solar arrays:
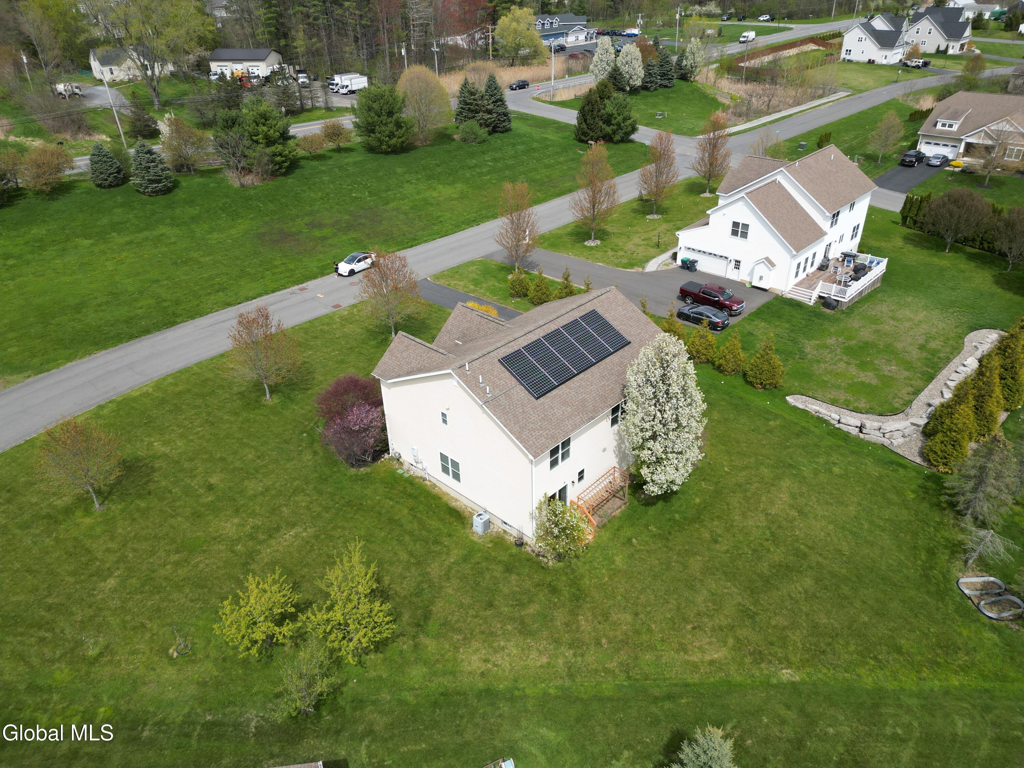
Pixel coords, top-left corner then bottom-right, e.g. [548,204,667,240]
[497,308,632,403]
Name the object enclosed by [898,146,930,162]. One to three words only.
car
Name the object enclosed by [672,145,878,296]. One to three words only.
house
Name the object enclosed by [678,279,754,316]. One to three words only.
truck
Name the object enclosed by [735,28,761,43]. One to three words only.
vehicle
